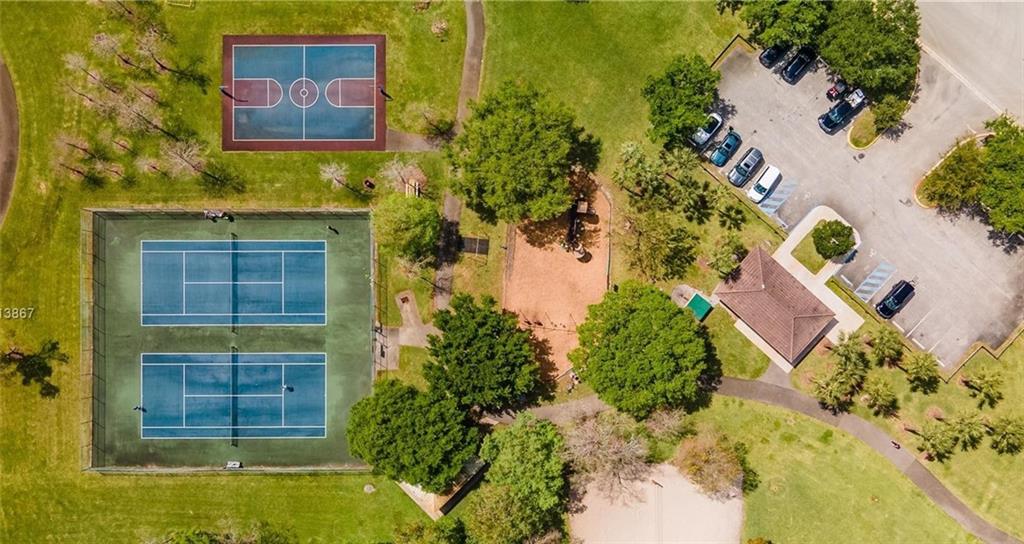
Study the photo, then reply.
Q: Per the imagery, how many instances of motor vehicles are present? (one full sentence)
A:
The picture shows 8 motor vehicles.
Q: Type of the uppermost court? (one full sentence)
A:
From above, the uppermost court can be identified as a basketball court.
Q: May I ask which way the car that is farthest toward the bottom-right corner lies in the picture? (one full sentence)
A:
From this overhead view, the car that is farthest toward the bottom-right corner appears to run at an angle.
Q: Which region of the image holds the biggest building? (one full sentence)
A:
You can find the biggest building in the right area of the picture.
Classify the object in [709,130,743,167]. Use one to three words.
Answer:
car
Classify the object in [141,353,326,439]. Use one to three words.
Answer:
tennis court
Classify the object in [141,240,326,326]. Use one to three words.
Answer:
tennis court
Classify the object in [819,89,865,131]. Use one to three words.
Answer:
truck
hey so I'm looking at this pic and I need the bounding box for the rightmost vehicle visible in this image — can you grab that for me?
[876,279,913,319]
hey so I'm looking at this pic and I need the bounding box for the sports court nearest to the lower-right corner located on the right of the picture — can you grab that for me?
[570,461,743,544]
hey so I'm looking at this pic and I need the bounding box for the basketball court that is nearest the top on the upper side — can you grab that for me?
[222,35,386,151]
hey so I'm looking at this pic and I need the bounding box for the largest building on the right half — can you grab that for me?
[716,246,835,362]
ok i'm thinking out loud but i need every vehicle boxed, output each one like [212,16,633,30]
[690,111,724,148]
[819,89,865,131]
[876,279,913,319]
[727,146,765,187]
[746,164,783,204]
[709,130,743,167]
[778,47,816,87]
[756,37,790,71]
